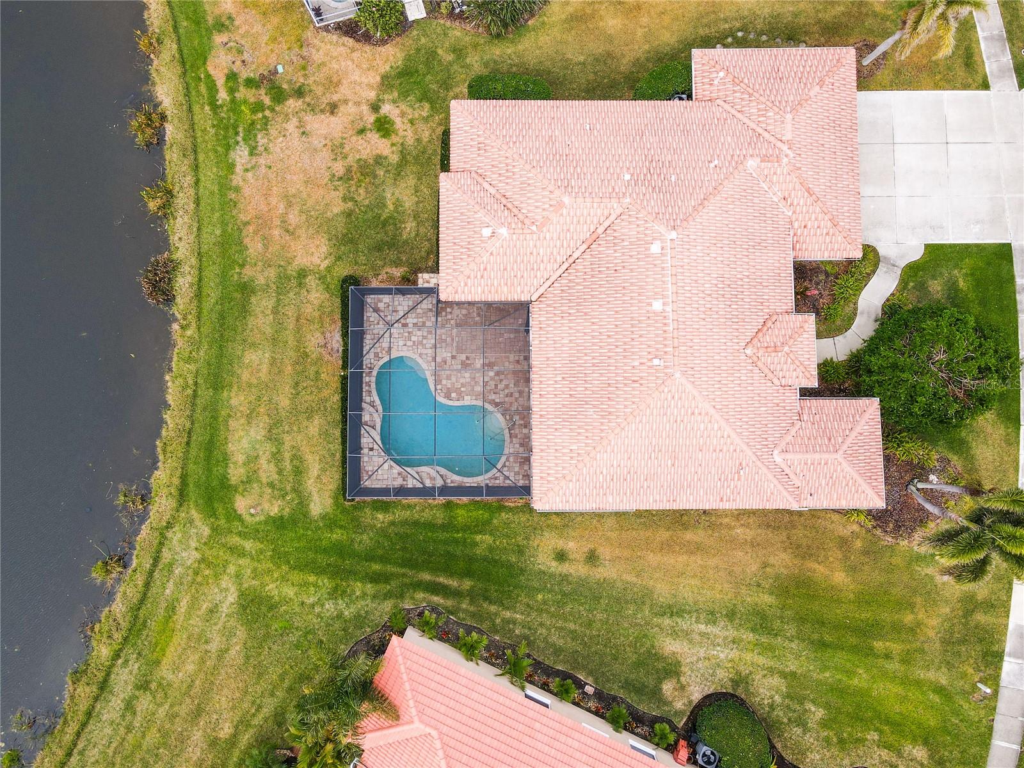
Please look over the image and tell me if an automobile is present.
No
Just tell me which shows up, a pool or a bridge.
pool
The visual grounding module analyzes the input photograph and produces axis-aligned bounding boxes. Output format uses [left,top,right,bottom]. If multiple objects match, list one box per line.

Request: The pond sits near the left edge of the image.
[0,0,178,768]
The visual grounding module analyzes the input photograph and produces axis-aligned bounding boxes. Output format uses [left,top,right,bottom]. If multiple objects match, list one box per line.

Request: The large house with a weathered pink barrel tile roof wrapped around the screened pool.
[438,45,887,513]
